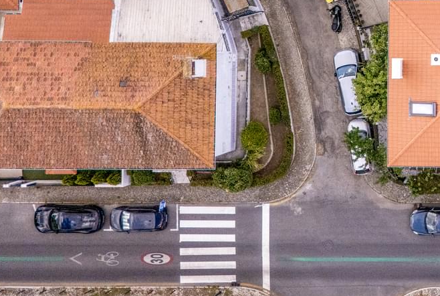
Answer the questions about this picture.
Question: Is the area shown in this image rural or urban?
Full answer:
It looks urban.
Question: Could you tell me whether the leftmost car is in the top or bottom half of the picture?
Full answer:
The leftmost car sits in the bottom half of the picture.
